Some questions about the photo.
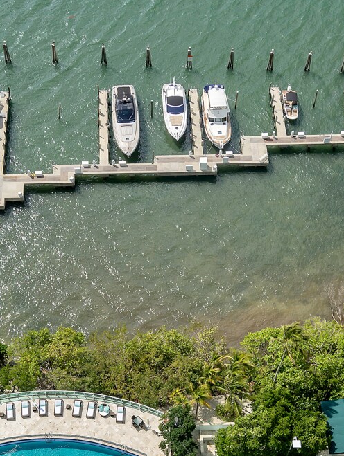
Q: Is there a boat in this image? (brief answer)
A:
Yes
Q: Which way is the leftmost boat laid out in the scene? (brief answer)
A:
from top to bottom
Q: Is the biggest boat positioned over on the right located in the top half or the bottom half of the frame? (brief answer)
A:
top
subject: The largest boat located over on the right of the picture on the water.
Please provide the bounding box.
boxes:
[201,73,233,151]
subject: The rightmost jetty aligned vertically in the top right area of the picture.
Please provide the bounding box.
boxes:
[268,77,288,135]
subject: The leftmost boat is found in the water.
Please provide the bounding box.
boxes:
[111,88,138,158]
